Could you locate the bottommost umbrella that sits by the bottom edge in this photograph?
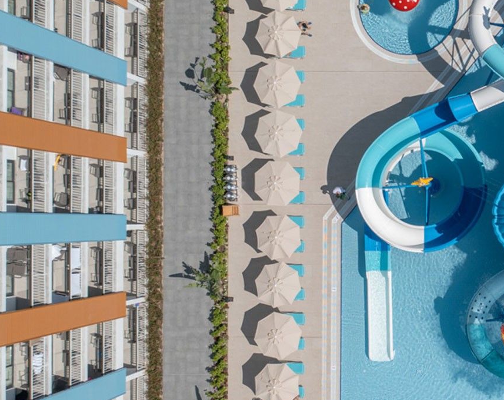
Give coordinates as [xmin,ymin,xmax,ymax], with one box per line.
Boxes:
[255,360,301,400]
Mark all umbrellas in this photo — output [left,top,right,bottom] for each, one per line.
[256,312,301,357]
[256,261,302,307]
[255,61,302,107]
[257,213,304,260]
[258,110,303,155]
[255,360,301,400]
[255,158,303,206]
[256,10,303,57]
[261,0,300,11]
